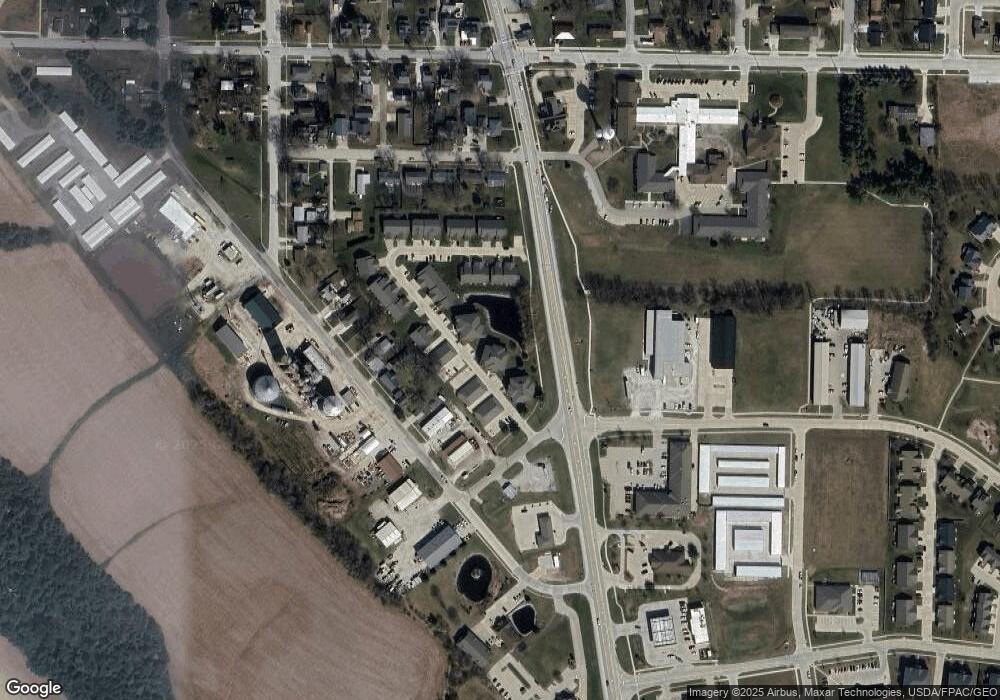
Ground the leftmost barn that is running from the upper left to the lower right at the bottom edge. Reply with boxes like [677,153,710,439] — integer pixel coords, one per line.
[453,625,495,666]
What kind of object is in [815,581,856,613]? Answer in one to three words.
building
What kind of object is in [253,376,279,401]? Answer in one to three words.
silo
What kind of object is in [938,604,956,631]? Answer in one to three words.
house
